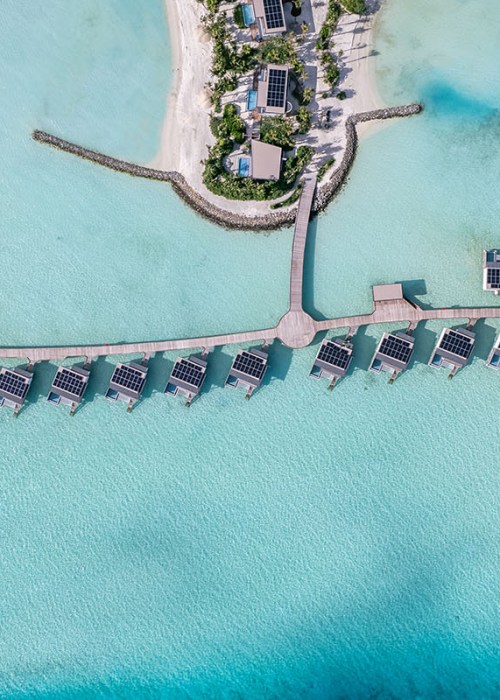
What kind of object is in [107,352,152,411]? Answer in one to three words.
house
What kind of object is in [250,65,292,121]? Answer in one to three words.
house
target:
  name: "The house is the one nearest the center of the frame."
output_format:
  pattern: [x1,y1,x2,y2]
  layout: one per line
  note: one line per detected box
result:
[227,338,272,398]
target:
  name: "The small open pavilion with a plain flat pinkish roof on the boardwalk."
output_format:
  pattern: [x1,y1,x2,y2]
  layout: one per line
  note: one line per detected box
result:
[371,283,421,310]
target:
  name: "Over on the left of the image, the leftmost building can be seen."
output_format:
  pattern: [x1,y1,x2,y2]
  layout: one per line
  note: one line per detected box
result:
[0,358,38,415]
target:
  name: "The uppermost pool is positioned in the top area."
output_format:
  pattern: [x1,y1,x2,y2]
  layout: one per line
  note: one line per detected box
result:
[240,3,256,28]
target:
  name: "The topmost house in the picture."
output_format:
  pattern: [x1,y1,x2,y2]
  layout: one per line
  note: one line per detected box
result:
[249,0,286,44]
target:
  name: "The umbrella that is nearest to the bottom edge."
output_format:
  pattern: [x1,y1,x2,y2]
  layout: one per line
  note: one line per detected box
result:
[198,92,213,107]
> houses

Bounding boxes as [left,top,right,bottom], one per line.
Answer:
[427,317,477,376]
[484,327,500,366]
[251,139,282,183]
[477,252,500,297]
[249,0,286,44]
[0,358,38,415]
[227,338,272,398]
[166,345,211,405]
[51,356,94,414]
[250,65,292,121]
[107,352,152,411]
[368,320,417,381]
[310,325,358,387]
